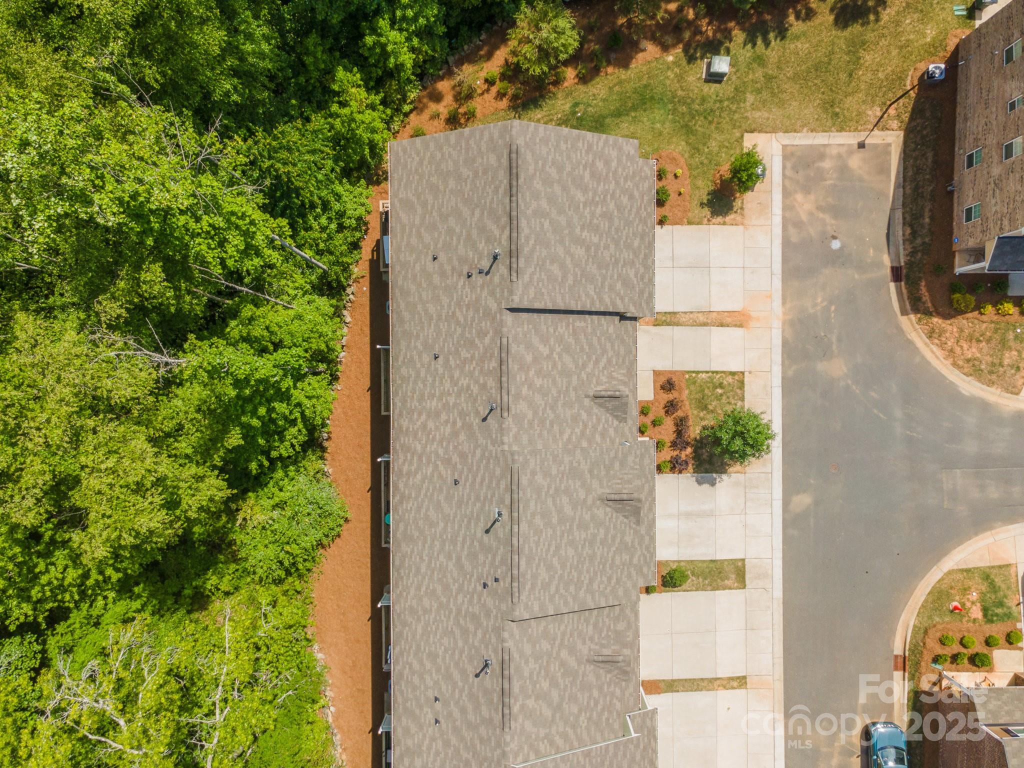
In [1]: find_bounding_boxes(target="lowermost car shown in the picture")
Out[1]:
[866,719,912,768]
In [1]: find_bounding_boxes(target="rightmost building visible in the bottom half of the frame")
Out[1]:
[939,670,1024,768]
